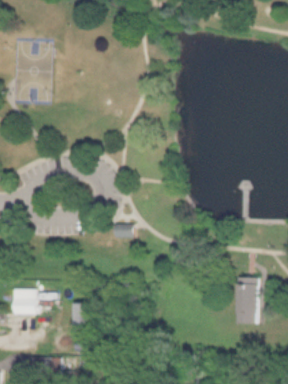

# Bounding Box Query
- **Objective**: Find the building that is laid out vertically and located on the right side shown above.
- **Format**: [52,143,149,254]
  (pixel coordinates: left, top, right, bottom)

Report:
[236,278,260,324]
